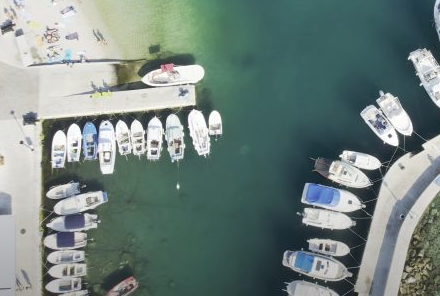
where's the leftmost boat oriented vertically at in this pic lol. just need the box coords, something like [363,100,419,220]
[41,122,67,176]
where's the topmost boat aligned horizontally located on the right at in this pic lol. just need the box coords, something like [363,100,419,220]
[335,149,386,170]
